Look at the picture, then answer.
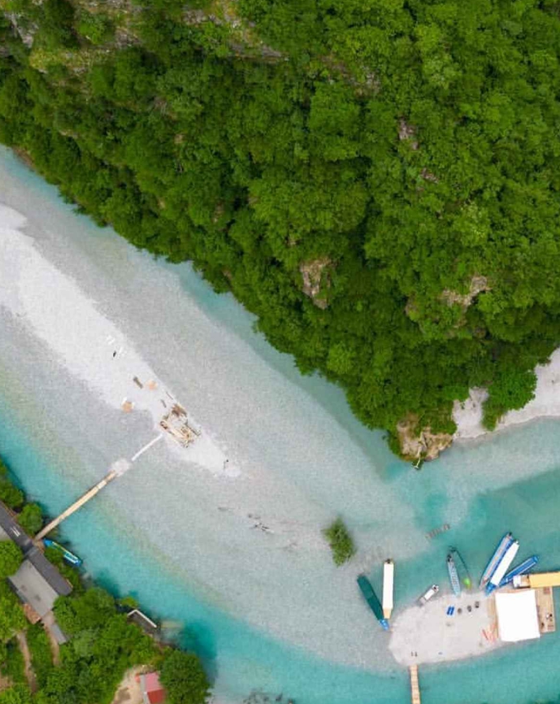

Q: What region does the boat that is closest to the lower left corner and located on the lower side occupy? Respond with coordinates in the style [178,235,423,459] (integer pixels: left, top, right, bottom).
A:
[55,544,82,566]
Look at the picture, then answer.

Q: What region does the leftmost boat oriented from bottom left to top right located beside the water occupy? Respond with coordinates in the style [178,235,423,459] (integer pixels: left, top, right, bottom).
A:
[419,584,438,604]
